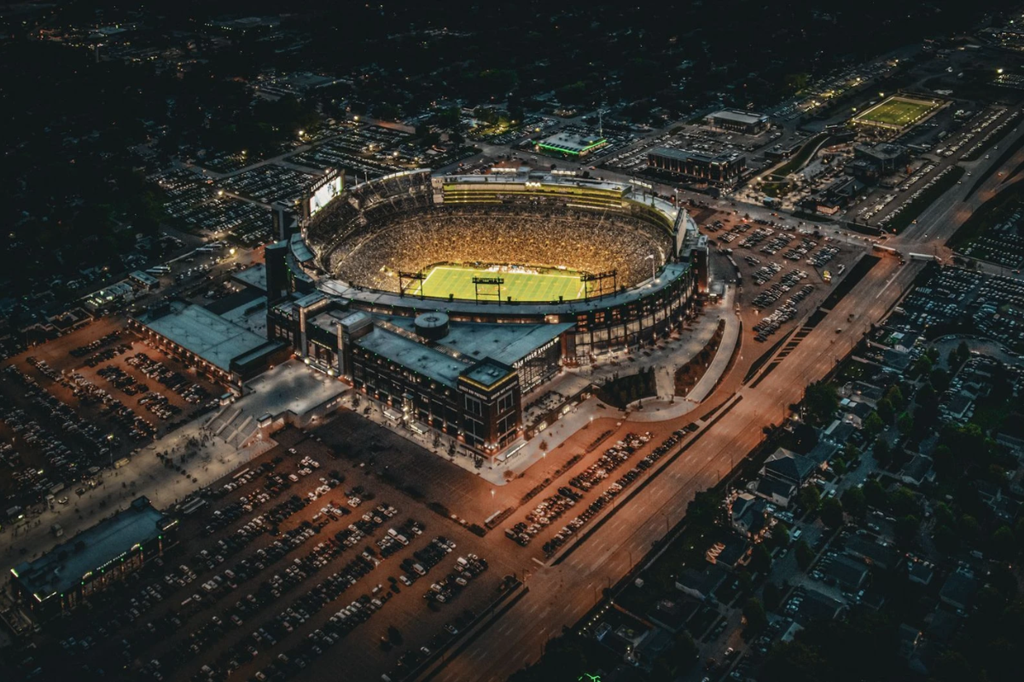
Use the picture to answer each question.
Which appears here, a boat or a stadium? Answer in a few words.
stadium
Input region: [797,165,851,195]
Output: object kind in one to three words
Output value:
building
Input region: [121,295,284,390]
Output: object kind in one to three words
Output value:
building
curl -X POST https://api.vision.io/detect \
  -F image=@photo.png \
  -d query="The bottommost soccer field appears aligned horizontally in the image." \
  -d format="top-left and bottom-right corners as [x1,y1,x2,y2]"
[409,266,592,302]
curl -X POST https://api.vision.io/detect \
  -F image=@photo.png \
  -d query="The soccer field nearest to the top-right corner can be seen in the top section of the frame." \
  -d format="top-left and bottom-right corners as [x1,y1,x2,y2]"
[846,93,951,130]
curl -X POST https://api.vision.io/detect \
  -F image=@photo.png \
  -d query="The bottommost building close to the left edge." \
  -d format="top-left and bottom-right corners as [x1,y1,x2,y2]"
[17,498,177,616]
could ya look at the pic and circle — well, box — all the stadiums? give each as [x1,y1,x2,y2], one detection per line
[288,161,703,358]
